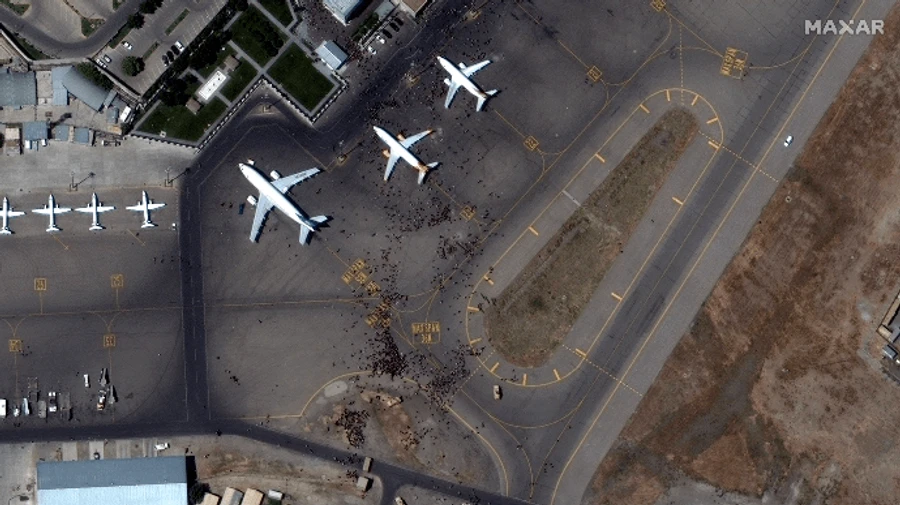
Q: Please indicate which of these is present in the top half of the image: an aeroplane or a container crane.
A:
aeroplane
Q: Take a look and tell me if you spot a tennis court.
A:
No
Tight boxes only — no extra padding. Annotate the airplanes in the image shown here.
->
[435,54,501,112]
[239,162,330,245]
[374,126,439,183]
[0,198,25,233]
[124,191,164,226]
[75,193,114,228]
[31,195,71,228]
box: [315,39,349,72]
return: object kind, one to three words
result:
shed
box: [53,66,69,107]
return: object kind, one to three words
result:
shed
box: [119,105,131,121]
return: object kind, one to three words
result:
vehicle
